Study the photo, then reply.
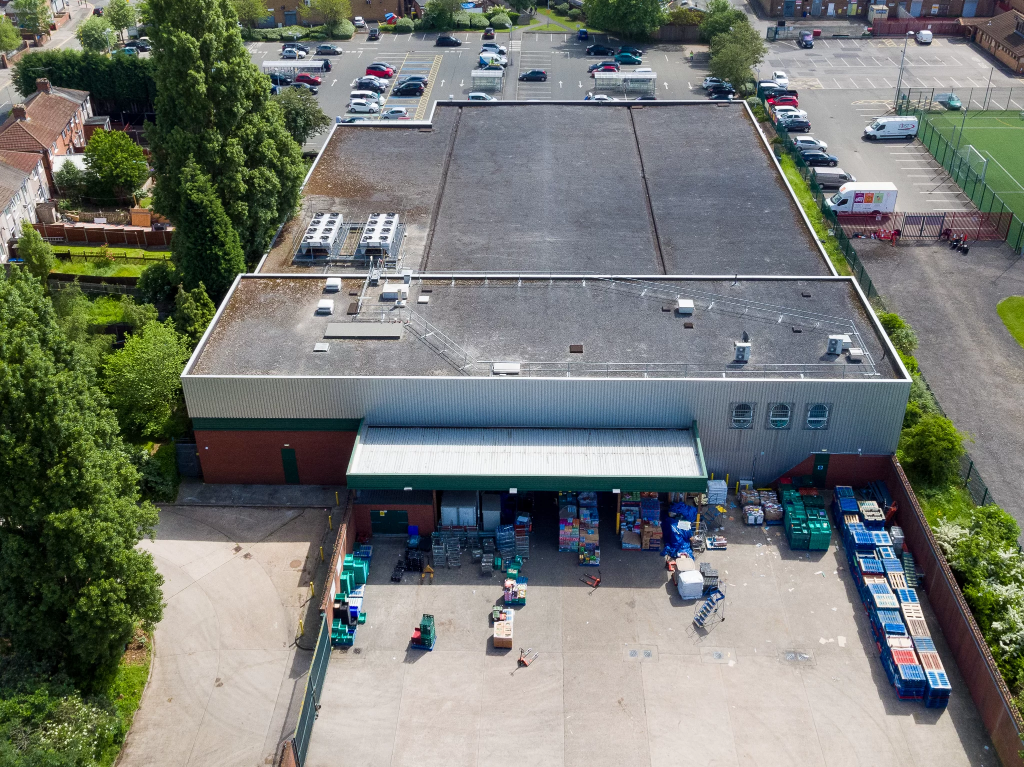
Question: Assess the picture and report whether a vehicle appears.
Yes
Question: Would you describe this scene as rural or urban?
urban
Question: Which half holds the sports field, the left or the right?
right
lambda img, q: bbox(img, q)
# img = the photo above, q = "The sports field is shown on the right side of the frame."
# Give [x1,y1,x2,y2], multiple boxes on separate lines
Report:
[921,110,1024,252]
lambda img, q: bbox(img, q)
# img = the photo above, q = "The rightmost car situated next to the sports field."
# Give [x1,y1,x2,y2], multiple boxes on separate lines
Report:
[941,93,964,110]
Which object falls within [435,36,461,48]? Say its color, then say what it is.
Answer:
black vehicle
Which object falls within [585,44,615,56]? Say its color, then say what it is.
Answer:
black vehicle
